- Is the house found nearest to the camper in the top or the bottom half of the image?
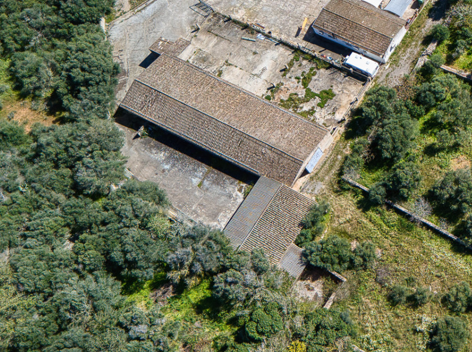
top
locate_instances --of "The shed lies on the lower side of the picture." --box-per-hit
[218,175,316,279]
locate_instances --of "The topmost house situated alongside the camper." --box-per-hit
[312,0,407,63]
